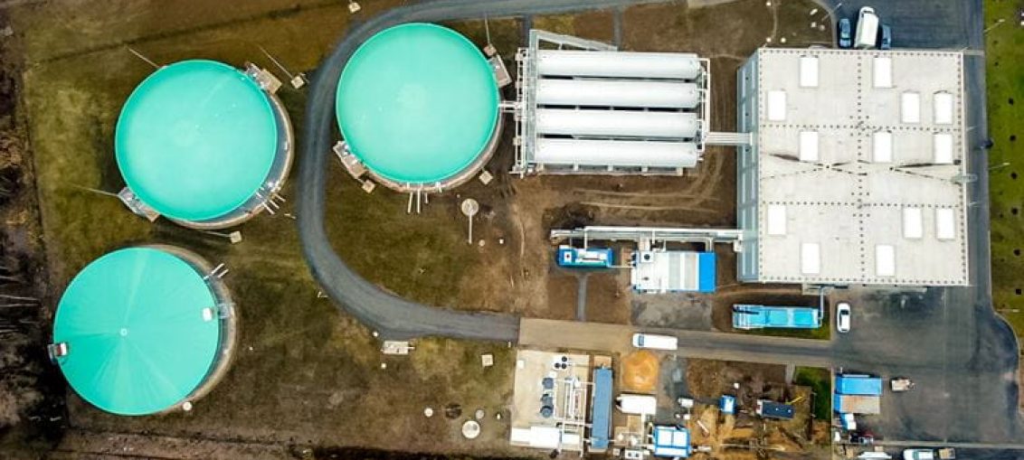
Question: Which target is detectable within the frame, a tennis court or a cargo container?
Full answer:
The image shows a cargo container.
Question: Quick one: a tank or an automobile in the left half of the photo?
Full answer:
You can see a tank in the left half of the photo.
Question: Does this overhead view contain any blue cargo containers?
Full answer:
Yes, the image includes a blue cargo container.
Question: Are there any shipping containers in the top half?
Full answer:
No, looking in the top half, there is no shipping container.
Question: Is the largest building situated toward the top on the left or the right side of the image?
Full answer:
You can find the largest building situated toward the top on the right side of the picture.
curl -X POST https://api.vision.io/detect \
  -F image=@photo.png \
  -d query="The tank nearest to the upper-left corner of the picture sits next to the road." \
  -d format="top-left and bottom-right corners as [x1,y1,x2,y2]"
[116,61,297,228]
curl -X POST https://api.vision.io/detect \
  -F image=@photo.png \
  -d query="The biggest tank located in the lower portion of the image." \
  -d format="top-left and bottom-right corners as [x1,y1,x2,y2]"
[45,243,238,417]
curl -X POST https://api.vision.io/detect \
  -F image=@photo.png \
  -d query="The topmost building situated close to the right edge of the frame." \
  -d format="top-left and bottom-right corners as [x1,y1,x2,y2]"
[737,45,979,295]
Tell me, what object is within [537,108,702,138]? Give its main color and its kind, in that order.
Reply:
white storage tank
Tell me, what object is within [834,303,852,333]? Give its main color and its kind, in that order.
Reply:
white car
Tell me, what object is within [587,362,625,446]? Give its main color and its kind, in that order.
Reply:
blue shipping container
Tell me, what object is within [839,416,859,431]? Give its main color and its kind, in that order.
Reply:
white vehicle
